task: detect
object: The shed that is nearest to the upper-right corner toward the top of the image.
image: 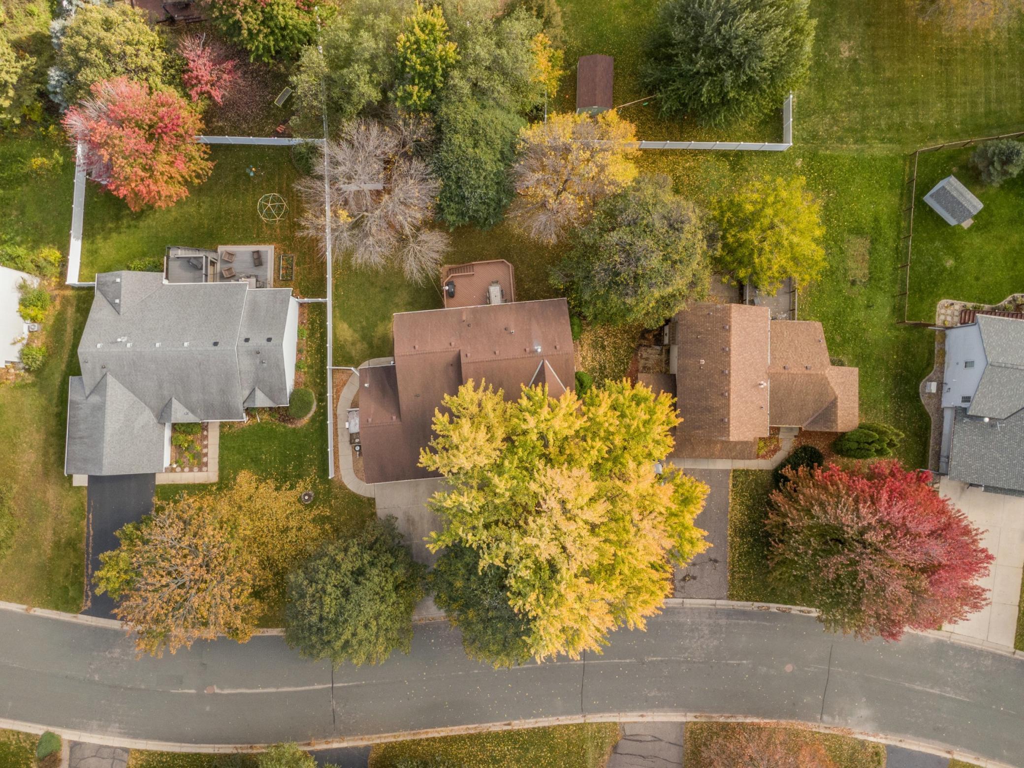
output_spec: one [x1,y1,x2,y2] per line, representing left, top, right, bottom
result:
[923,171,987,227]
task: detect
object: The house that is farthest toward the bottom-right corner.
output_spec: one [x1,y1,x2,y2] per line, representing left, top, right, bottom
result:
[936,312,1024,498]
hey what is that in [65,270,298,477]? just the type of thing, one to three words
house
